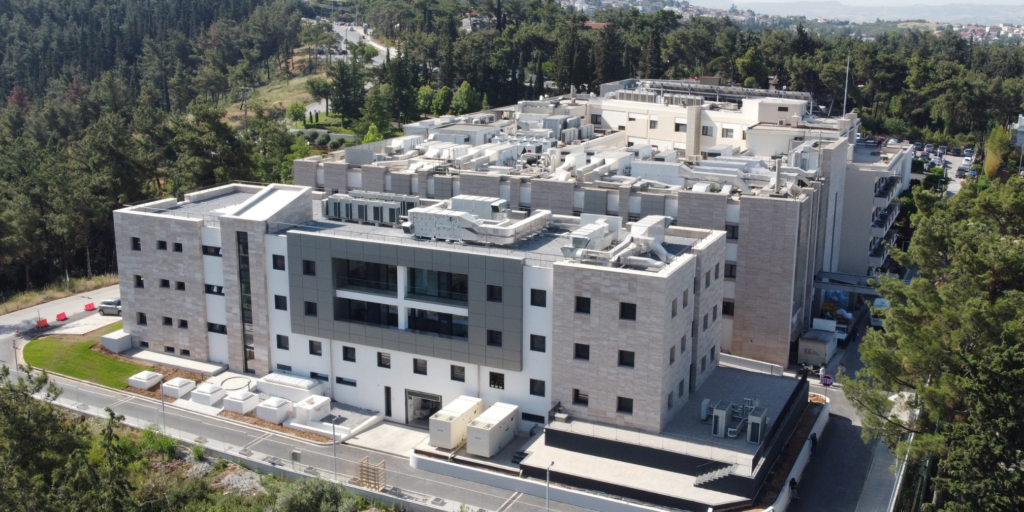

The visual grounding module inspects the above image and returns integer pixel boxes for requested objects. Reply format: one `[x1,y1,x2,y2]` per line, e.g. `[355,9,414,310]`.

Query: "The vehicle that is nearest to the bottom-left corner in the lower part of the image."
[96,299,121,317]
